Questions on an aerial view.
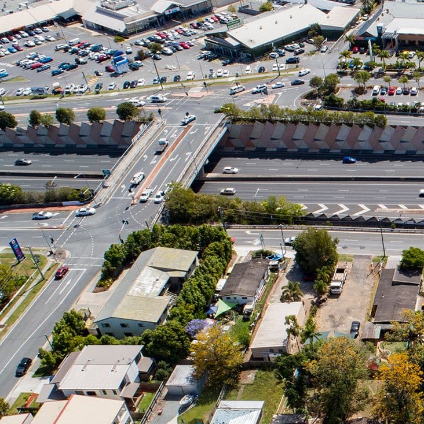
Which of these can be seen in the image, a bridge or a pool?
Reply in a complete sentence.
This aerial view contains a bridge.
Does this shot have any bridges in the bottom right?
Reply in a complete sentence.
No, in the bottom right there is no bridge.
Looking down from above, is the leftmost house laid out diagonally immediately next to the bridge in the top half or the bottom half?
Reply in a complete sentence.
The leftmost house laid out diagonally immediately next to the bridge sits in the bottom half of the picture.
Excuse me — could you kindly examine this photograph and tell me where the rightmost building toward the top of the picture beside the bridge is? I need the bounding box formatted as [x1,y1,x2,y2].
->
[206,5,361,64]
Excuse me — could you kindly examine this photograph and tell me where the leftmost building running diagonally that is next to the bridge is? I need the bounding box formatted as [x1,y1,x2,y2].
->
[89,248,201,341]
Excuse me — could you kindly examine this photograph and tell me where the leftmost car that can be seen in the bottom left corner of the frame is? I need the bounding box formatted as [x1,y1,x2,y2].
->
[15,354,33,375]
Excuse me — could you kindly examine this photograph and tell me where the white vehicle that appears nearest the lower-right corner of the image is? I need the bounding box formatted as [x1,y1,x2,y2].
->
[331,266,345,291]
